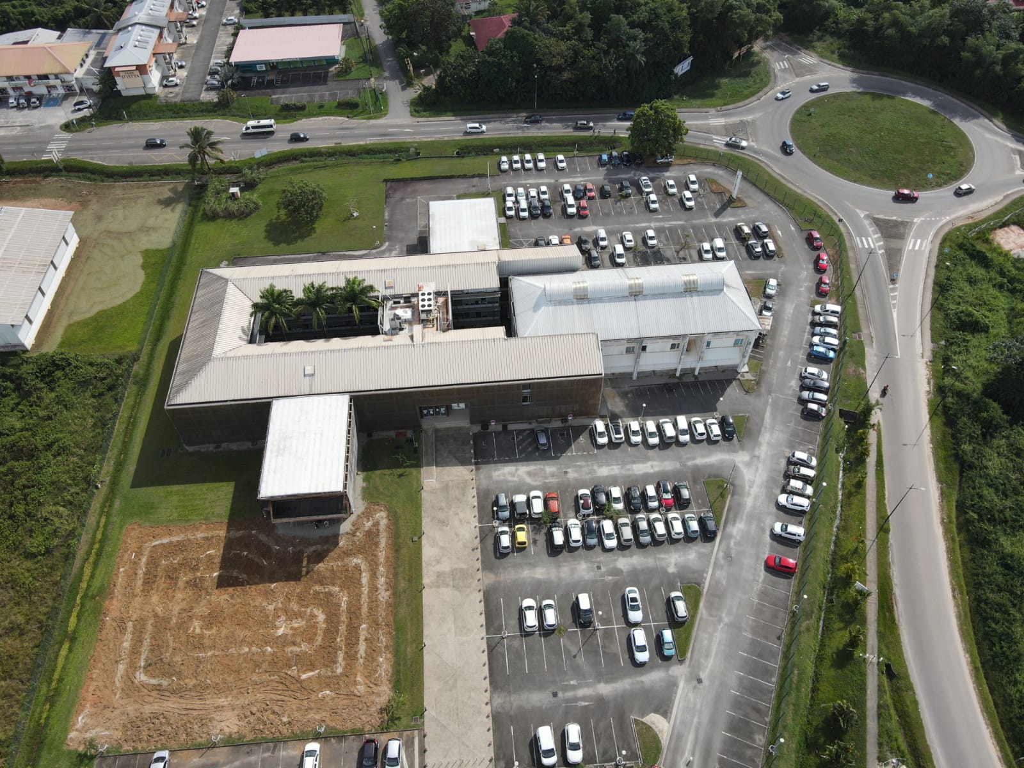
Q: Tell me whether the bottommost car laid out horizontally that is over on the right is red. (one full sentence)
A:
Yes, the bottommost car laid out horizontally that is over on the right is red.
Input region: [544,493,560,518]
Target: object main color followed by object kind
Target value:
red car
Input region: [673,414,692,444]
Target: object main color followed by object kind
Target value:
white vehicle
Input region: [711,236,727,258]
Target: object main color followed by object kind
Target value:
white vehicle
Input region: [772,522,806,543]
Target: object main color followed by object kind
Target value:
white car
